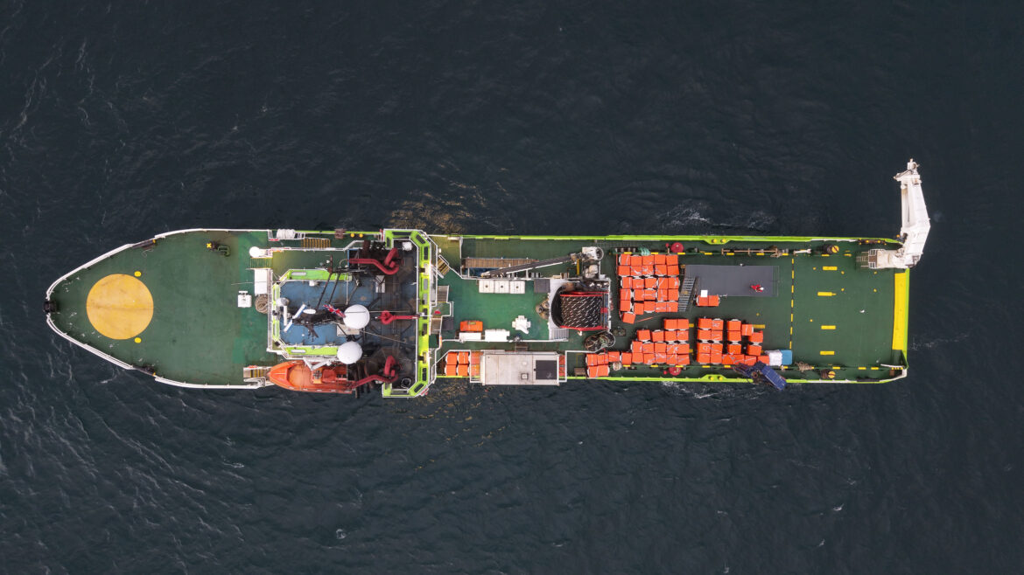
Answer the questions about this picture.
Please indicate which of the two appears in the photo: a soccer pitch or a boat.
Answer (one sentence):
Visible in the photo is a boat.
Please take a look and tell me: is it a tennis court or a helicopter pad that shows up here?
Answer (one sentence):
It is a helicopter pad that can be seen here.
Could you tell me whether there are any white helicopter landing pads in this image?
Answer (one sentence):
No, the photo shows no white helicopter landing pad.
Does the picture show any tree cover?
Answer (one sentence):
No, there is no tree cover in the image.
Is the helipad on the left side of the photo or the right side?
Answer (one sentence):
The helipad is on the left side of the image.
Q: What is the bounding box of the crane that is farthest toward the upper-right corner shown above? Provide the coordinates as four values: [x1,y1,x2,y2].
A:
[856,158,930,269]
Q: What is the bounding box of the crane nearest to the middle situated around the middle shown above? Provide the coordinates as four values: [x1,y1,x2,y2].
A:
[481,247,605,277]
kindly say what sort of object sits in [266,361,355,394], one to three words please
boat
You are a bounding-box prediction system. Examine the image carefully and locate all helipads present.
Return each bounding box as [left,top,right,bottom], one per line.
[87,273,153,339]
